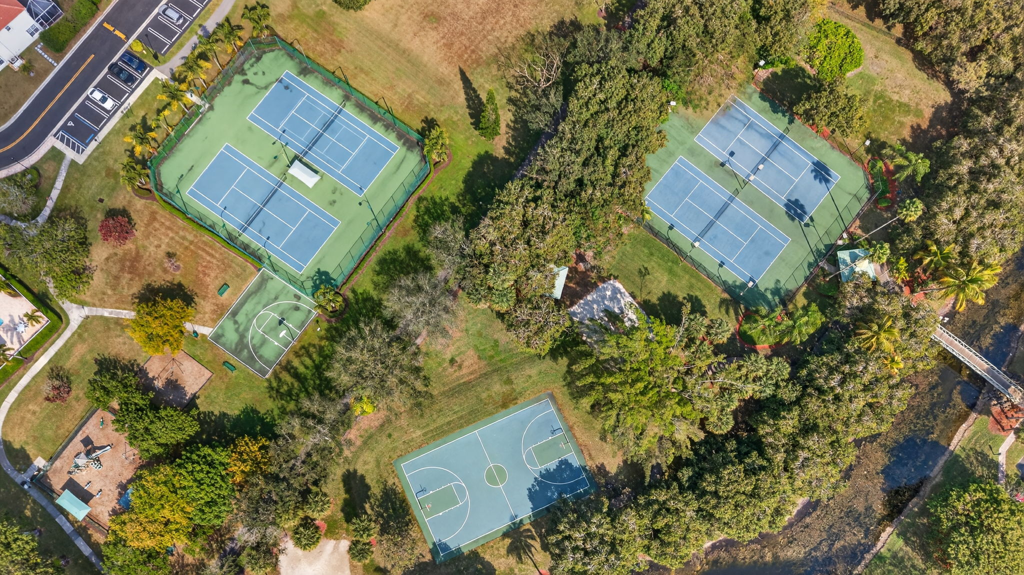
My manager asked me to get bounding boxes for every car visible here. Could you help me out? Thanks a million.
[119,49,147,71]
[157,3,184,24]
[86,87,115,109]
[107,62,136,84]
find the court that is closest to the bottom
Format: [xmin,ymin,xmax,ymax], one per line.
[394,393,598,564]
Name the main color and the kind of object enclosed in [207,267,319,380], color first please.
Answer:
green basketball court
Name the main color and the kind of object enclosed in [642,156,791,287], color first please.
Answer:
blue tennis court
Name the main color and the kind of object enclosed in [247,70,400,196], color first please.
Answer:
blue tennis court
